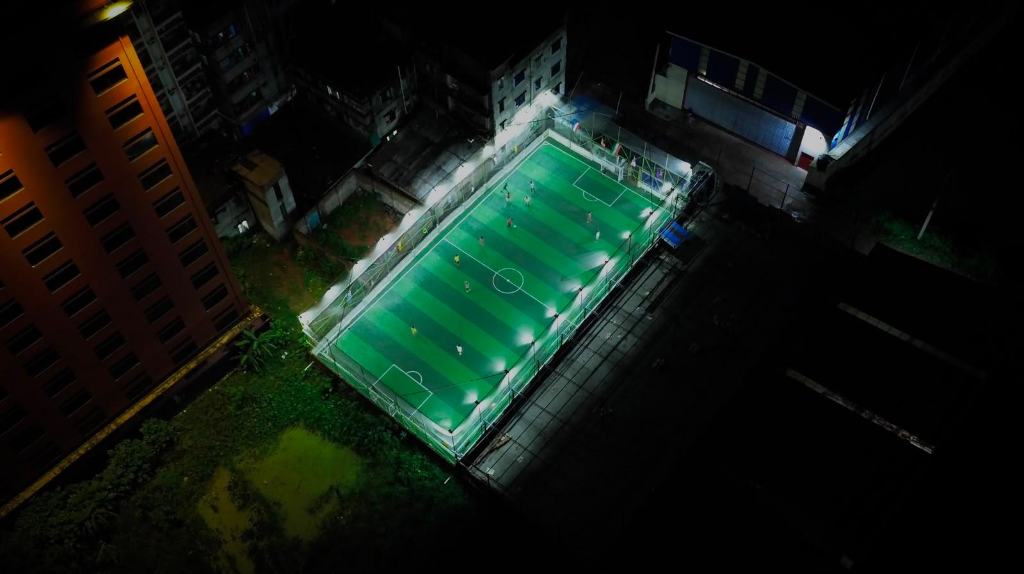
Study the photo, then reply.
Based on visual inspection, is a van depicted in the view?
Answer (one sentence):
No, I find no van anywhere in the image.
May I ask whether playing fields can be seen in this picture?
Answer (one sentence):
Yes, the image includes a playing field.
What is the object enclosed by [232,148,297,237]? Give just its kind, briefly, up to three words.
shed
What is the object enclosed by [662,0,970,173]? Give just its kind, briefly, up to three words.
warehouse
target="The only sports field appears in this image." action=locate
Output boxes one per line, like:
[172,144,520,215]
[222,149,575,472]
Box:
[311,133,684,465]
